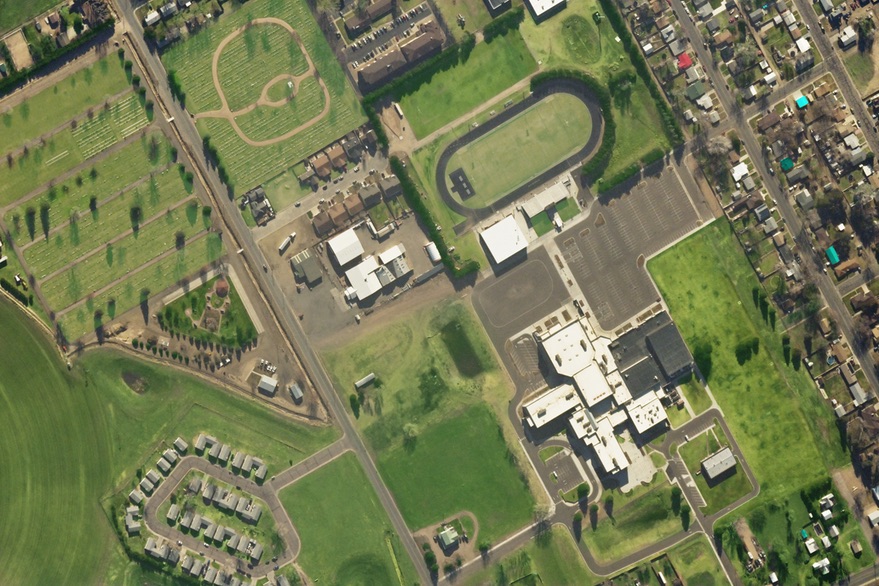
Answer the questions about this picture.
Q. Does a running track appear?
Yes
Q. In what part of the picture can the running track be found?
top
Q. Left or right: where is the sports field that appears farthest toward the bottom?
right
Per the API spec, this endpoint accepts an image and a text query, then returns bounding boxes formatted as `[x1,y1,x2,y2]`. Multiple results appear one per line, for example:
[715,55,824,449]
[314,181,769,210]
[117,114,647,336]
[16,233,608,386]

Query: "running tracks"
[436,85,601,216]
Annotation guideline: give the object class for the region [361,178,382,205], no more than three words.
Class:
house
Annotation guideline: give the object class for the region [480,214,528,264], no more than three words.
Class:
building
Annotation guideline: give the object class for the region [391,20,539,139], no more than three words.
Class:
sports field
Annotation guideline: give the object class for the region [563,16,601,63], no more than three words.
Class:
sports field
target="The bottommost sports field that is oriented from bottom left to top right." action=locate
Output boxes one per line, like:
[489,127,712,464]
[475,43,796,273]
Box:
[446,94,591,207]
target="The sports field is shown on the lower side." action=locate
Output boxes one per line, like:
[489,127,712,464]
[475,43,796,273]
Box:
[646,219,838,500]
